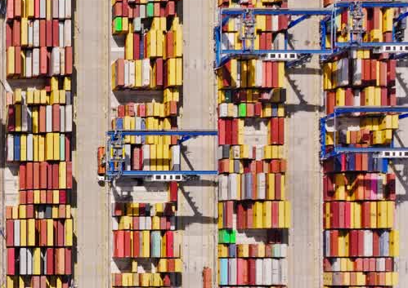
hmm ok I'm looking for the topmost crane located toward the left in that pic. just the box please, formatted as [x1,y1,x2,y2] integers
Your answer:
[105,129,217,186]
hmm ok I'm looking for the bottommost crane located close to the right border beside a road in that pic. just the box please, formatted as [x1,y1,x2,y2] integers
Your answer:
[320,105,408,164]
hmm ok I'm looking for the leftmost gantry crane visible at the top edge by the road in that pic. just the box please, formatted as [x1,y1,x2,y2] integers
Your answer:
[215,7,333,75]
